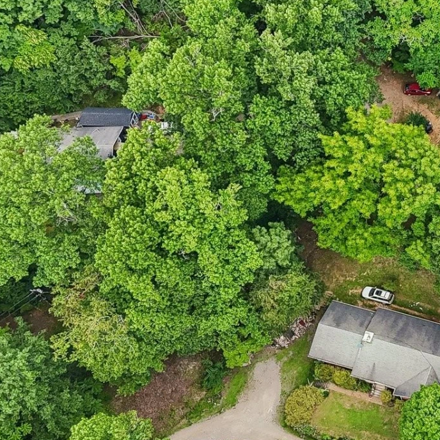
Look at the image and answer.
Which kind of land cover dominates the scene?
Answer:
trees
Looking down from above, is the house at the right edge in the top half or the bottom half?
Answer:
bottom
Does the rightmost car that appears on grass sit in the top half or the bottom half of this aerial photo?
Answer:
bottom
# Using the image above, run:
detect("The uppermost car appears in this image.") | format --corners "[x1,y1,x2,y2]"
[403,82,430,95]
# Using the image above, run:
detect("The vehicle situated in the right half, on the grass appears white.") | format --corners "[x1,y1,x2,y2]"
[361,285,394,306]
